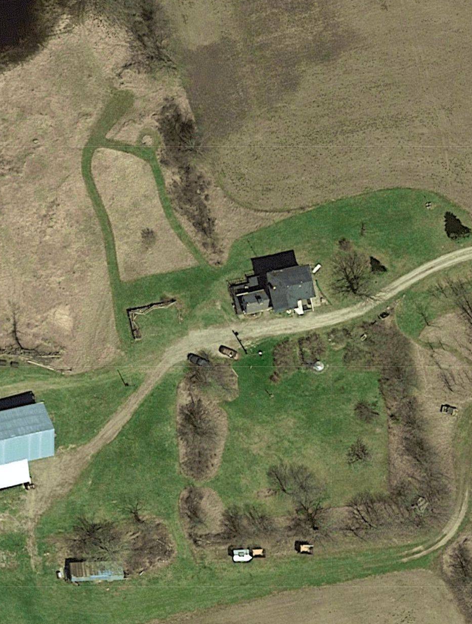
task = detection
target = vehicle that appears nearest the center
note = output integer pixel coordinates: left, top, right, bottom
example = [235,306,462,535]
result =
[218,345,238,358]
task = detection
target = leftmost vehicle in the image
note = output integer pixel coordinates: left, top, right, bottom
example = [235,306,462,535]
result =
[187,353,208,367]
